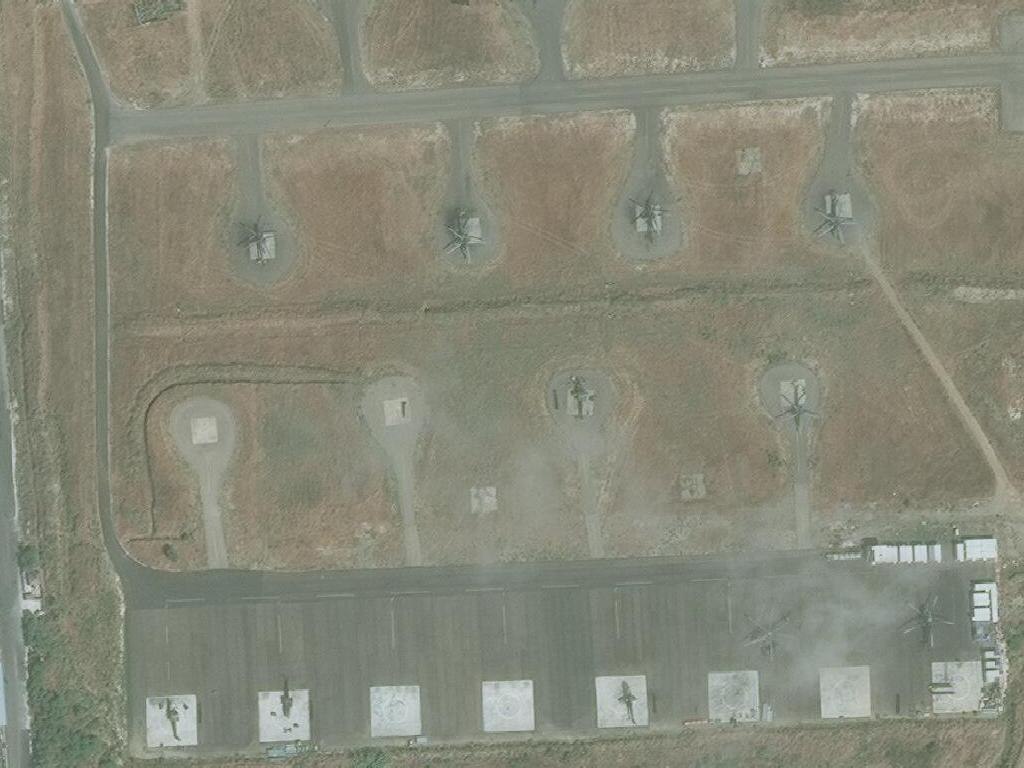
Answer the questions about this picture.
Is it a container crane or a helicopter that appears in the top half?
helicopter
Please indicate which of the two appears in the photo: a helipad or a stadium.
helipad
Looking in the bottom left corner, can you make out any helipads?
Yes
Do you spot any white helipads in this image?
Yes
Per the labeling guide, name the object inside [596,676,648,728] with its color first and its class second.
white helipad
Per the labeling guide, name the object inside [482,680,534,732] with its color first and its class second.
white helipad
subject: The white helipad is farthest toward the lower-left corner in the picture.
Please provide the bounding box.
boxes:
[146,695,197,747]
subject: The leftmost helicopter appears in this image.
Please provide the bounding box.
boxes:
[164,697,181,740]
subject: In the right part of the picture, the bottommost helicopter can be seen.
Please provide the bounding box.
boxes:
[620,682,638,726]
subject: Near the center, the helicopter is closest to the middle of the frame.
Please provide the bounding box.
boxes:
[570,375,586,420]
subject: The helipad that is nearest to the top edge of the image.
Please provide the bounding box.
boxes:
[738,149,762,174]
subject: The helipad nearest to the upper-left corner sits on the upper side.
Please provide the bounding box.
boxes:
[249,232,275,260]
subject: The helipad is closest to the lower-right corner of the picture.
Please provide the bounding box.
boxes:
[932,661,983,713]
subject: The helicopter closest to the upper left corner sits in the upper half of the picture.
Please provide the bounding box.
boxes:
[237,211,286,268]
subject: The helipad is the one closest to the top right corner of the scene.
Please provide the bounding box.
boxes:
[825,194,852,220]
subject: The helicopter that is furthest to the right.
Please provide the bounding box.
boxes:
[906,588,956,646]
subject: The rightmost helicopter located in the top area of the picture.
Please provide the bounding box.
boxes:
[813,192,862,248]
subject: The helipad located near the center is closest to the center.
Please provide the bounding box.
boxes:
[568,389,593,416]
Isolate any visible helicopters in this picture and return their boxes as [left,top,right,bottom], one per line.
[906,588,956,646]
[620,682,638,726]
[570,375,586,420]
[813,192,862,248]
[771,378,822,436]
[237,211,286,268]
[278,677,295,720]
[164,697,181,740]
[441,208,490,264]
[745,598,796,660]
[626,186,675,247]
